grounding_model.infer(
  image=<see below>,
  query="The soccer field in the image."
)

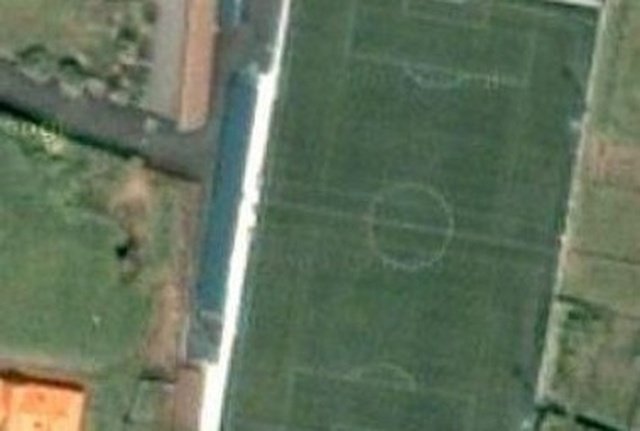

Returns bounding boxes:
[222,0,599,431]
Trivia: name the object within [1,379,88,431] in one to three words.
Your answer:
house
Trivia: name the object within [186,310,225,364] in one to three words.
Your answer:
building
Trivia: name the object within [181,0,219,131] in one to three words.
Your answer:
building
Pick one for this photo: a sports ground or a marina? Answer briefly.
sports ground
